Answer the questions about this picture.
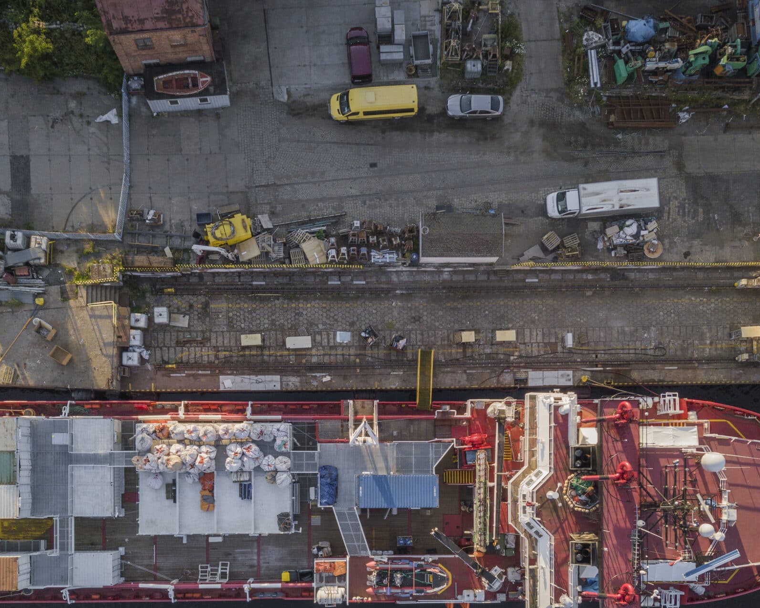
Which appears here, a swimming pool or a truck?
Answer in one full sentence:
The image shows a truck.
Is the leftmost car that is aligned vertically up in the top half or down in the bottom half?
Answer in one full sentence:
The top half of the photo is where the leftmost car that is aligned vertically is.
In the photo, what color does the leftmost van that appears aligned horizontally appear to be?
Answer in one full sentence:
In this view, the leftmost van that appears aligned horizontally is yellow.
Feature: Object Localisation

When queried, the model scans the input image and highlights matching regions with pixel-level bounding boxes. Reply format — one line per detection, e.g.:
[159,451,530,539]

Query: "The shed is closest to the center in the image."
[419,213,505,264]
